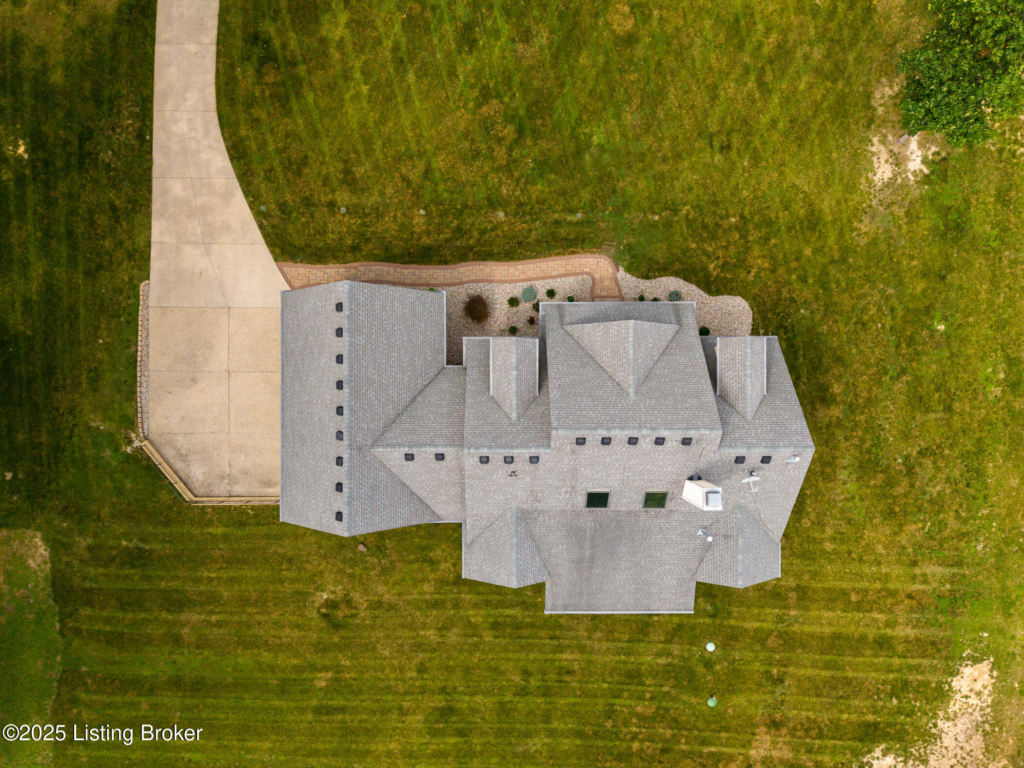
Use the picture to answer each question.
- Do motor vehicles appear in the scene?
No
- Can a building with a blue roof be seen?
No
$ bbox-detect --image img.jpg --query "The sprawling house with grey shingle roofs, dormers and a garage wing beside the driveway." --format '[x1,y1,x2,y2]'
[279,280,815,614]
